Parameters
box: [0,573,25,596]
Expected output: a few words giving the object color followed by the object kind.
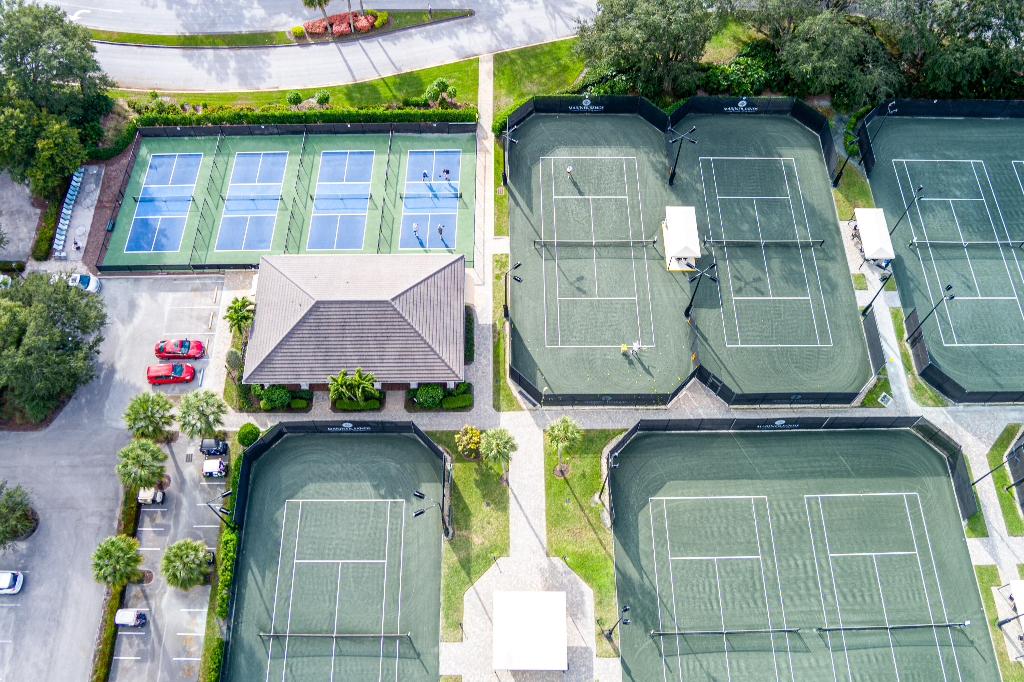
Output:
white car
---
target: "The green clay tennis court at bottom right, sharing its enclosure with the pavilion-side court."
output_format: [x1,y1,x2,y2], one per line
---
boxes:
[752,428,1004,682]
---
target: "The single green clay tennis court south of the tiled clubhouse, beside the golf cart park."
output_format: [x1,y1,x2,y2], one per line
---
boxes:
[226,433,444,682]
